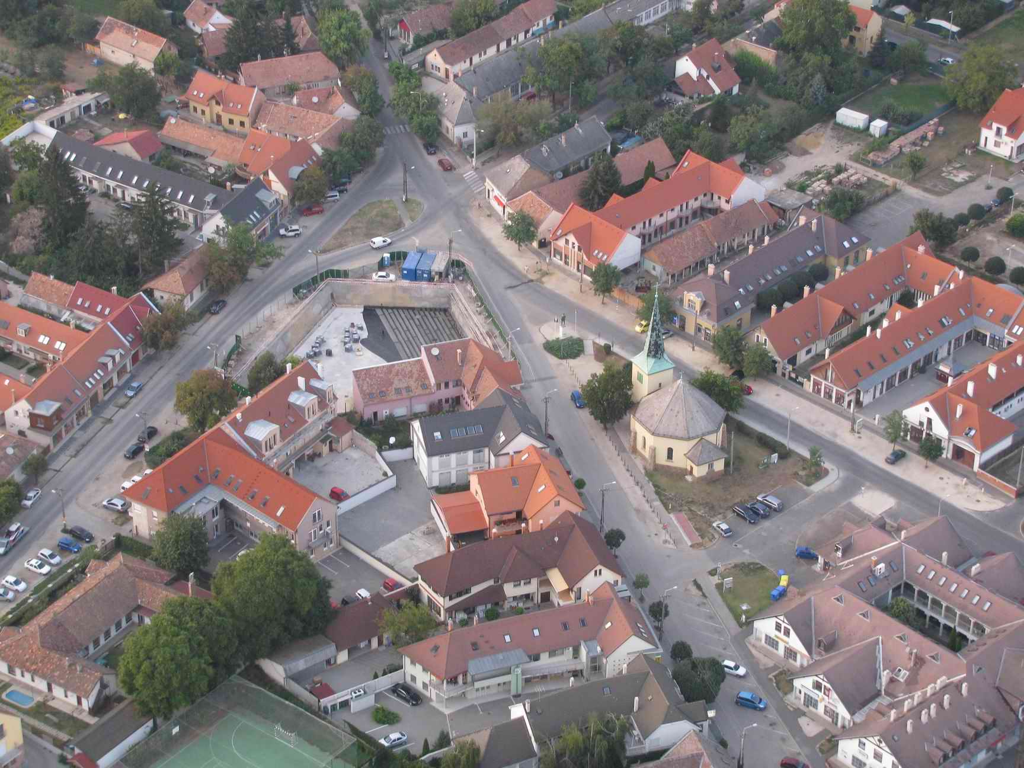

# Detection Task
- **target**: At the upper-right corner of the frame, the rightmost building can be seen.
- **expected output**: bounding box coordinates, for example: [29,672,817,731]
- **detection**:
[980,86,1024,159]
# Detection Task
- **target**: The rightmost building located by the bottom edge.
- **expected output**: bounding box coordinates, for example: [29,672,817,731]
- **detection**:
[755,515,1024,768]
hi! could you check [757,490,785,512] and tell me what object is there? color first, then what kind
gray car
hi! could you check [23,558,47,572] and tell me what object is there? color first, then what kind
white car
